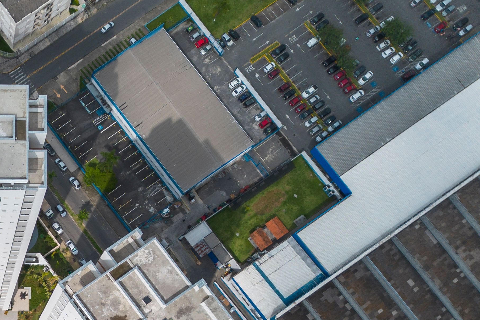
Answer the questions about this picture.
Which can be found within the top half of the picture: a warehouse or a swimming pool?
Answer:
warehouse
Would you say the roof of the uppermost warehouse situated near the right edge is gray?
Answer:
Yes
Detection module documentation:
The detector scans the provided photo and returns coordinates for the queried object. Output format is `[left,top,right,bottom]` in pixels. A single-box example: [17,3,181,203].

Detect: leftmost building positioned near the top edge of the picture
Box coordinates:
[0,0,81,50]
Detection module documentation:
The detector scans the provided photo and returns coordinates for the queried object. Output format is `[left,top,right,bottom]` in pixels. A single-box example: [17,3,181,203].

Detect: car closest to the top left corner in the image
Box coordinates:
[100,22,114,34]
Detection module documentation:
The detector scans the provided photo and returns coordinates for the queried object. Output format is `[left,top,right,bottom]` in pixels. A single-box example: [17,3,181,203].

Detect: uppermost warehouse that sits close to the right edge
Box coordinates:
[314,33,480,179]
